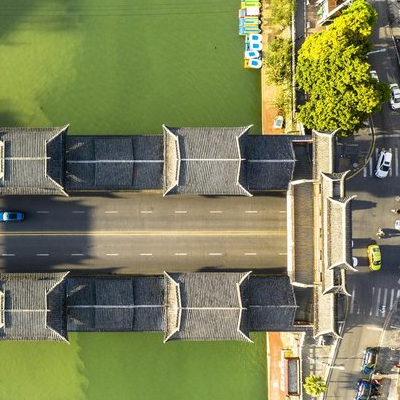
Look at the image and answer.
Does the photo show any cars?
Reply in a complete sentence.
Yes, a car is visible in the scene.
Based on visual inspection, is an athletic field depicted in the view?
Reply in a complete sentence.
No, there isn't any athletic field down there.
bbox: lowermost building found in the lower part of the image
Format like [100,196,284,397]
[280,356,300,393]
